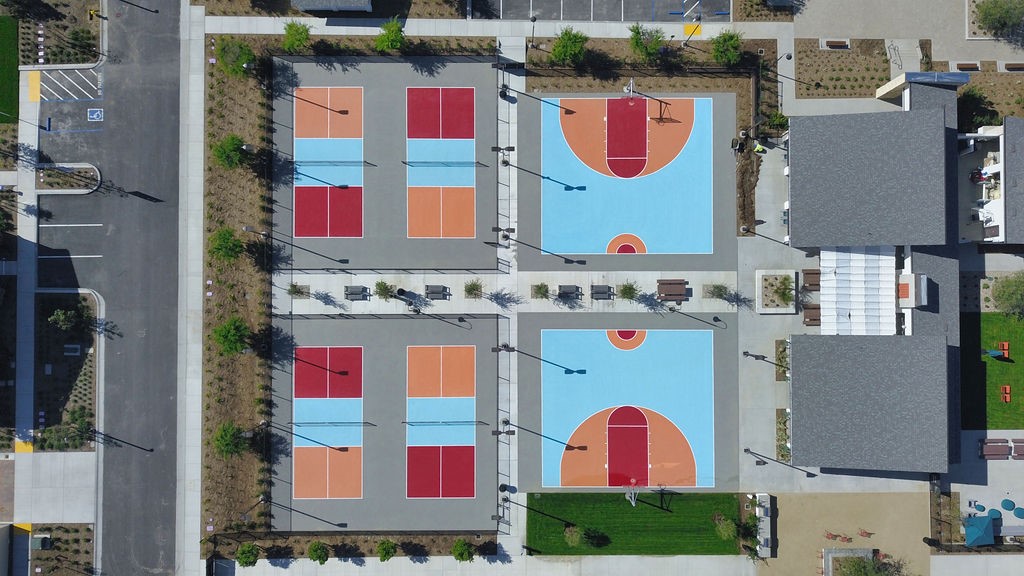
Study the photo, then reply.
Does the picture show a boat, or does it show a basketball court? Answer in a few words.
basketball court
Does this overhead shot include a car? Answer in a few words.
No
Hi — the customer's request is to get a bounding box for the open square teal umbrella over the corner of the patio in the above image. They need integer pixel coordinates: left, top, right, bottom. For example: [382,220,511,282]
[959,515,996,547]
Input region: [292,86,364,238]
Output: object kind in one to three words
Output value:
sports court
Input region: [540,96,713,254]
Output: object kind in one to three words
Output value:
basketball court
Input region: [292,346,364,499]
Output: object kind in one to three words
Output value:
sports court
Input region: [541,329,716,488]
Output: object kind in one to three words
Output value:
basketball court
